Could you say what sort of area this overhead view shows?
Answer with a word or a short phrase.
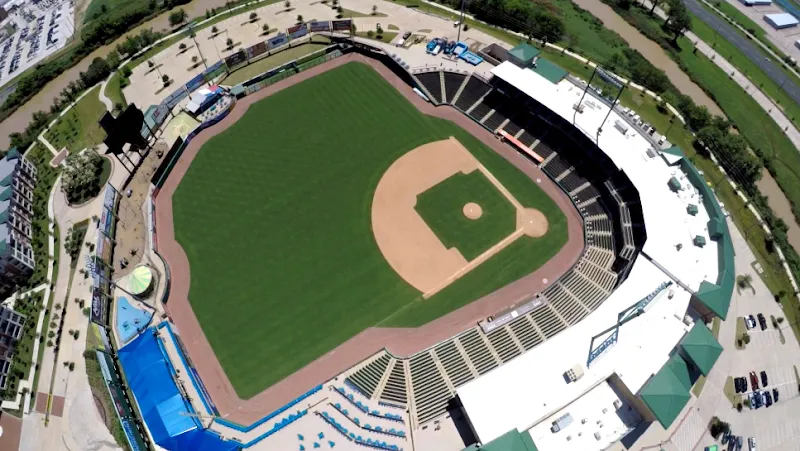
sports ground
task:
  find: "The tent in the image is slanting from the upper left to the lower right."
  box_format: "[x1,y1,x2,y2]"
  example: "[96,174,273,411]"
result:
[118,328,234,451]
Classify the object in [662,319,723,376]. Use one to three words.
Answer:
building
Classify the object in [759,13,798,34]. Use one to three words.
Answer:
building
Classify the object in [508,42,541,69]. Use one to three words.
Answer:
shed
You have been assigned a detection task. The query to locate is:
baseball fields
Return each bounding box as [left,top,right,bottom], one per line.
[155,52,585,424]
